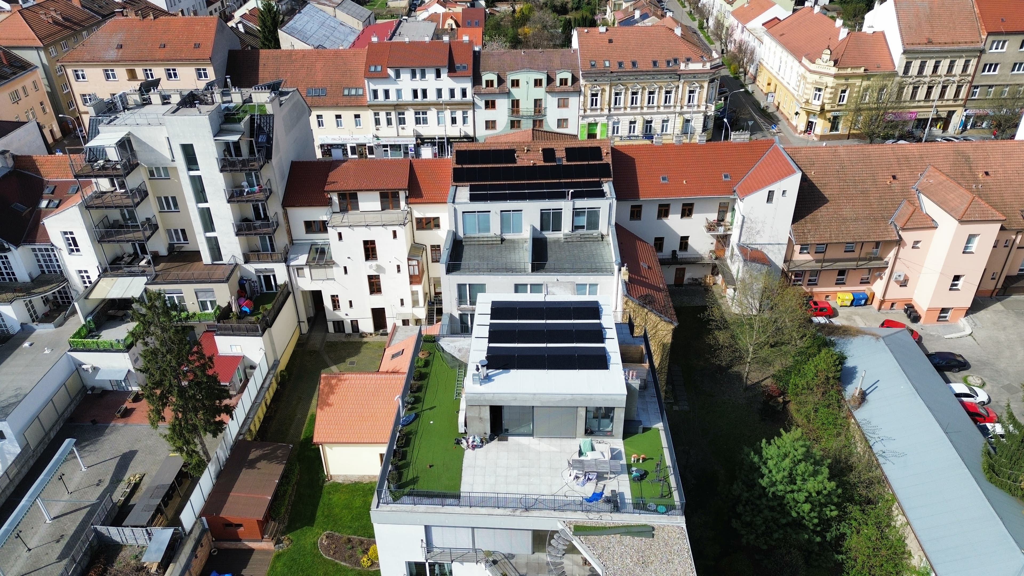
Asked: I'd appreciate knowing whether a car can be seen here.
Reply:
Yes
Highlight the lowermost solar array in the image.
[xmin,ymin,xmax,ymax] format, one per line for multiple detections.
[468,300,622,371]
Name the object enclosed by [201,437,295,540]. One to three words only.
shed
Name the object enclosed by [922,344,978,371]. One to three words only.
car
